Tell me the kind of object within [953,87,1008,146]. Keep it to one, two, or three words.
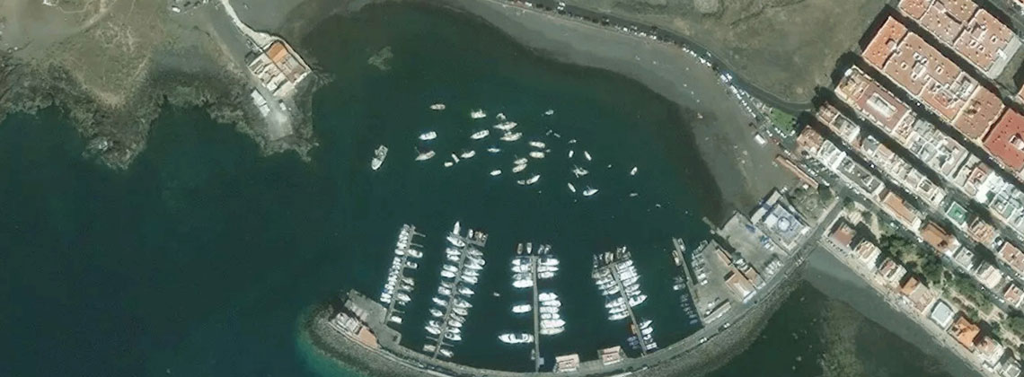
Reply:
building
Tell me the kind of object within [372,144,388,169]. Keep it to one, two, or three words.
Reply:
boat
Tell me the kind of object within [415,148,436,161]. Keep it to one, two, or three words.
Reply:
boat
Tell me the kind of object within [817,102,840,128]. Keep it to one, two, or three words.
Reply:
house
